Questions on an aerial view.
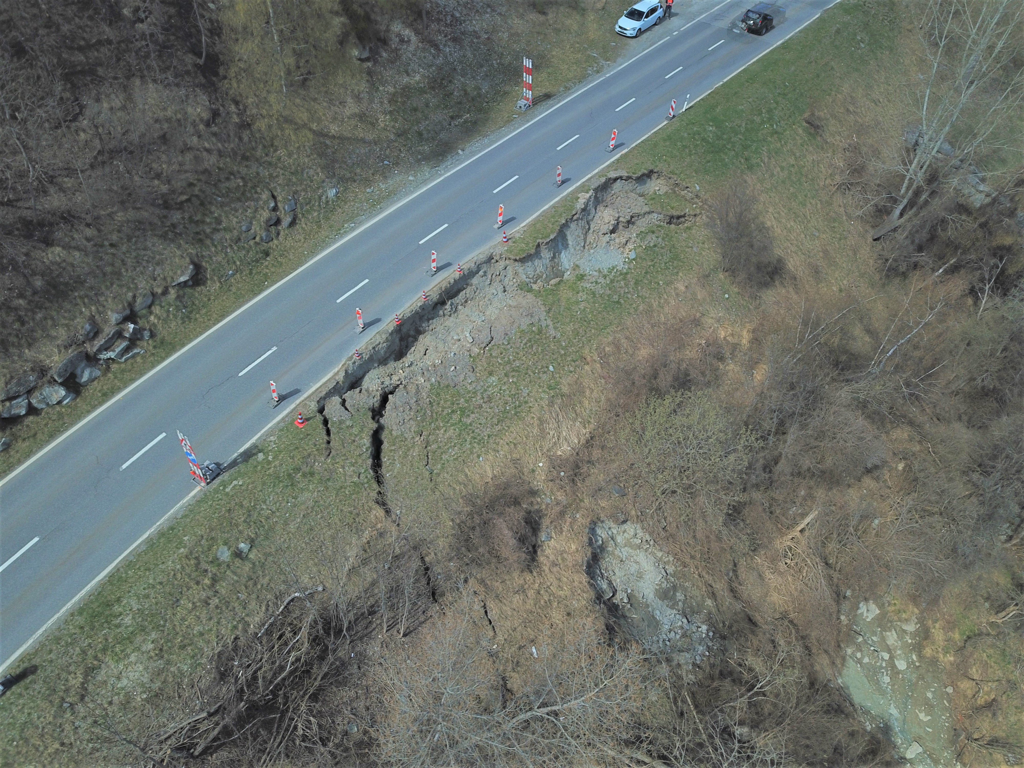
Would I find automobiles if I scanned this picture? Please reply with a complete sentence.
Yes, the frame does contain an automobile.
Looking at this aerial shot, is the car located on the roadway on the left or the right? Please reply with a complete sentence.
It is on the right.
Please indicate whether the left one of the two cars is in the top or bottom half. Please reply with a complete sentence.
The top half of the photo is where the left one of the two cars is.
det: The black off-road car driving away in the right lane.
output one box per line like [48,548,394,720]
[740,0,785,34]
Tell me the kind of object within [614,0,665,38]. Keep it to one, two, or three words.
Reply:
car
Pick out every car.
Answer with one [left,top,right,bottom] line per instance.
[740,0,785,34]
[614,0,665,38]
